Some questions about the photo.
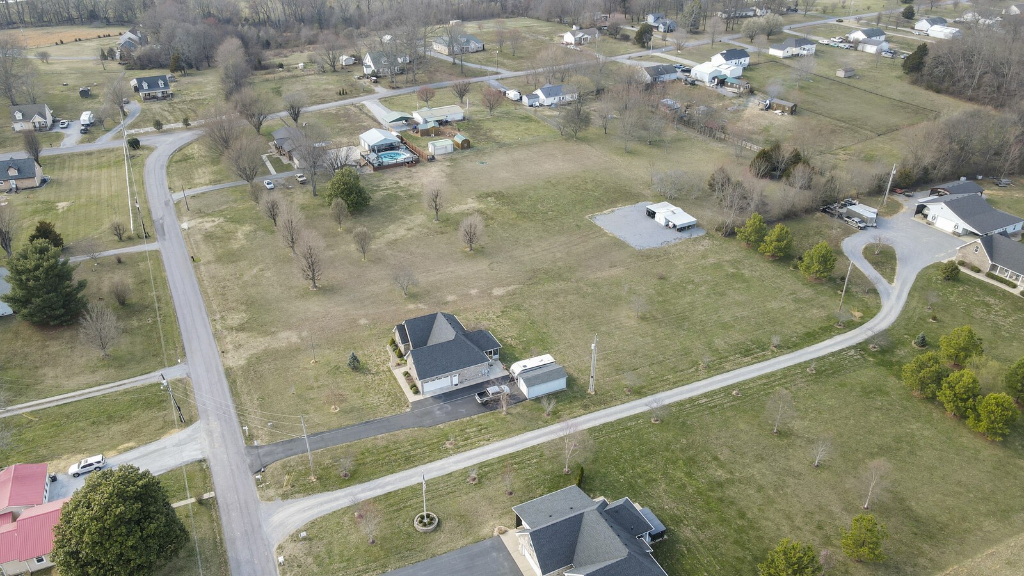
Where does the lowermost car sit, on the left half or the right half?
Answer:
left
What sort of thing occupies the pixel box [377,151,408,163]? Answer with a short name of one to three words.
swimming pool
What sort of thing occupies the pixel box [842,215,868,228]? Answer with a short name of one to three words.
vehicle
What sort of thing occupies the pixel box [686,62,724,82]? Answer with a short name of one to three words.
barn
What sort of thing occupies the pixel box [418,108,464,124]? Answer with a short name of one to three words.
house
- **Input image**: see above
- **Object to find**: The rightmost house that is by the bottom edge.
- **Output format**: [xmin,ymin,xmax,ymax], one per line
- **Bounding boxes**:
[509,484,671,576]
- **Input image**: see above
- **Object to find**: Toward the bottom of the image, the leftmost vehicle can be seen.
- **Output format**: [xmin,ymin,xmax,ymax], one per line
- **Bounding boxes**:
[66,453,105,479]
